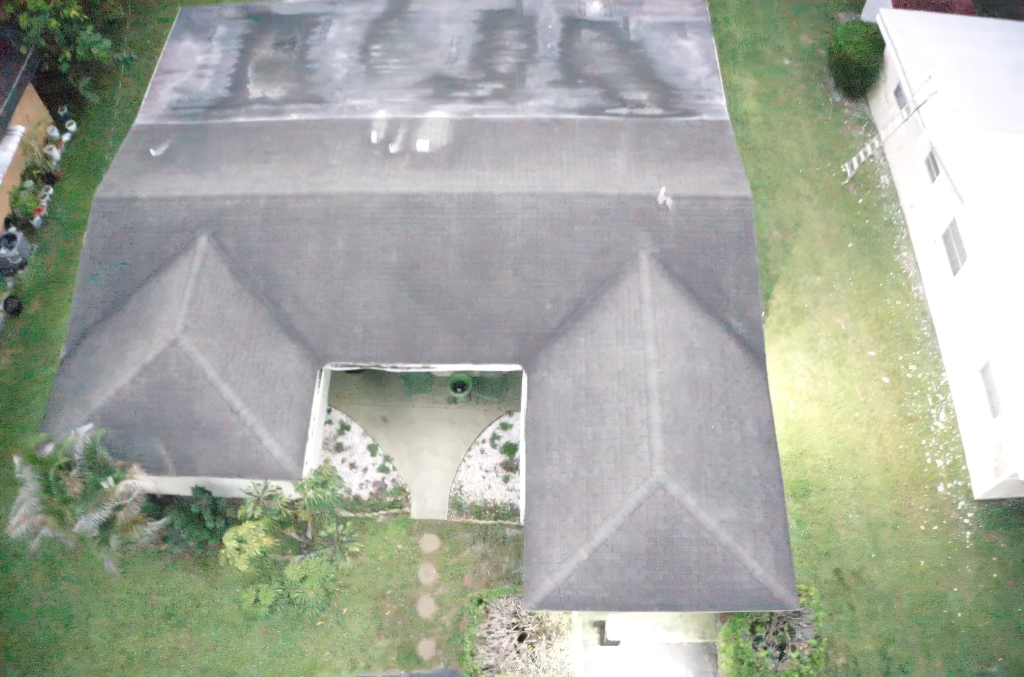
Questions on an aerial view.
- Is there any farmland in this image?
No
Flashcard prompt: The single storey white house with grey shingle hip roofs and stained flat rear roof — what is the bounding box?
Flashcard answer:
[34,0,804,617]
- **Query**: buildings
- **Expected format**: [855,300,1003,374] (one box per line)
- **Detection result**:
[863,11,1024,501]
[34,0,804,617]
